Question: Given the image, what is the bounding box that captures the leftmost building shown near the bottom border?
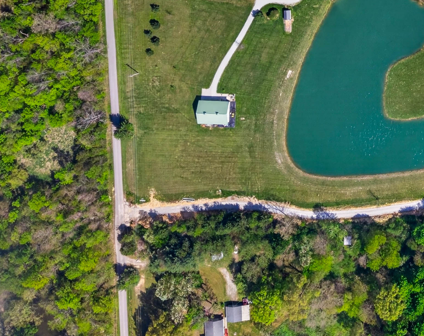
[204,317,225,336]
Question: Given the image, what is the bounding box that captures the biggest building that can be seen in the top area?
[198,100,231,125]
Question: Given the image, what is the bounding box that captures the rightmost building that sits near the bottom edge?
[226,303,252,322]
